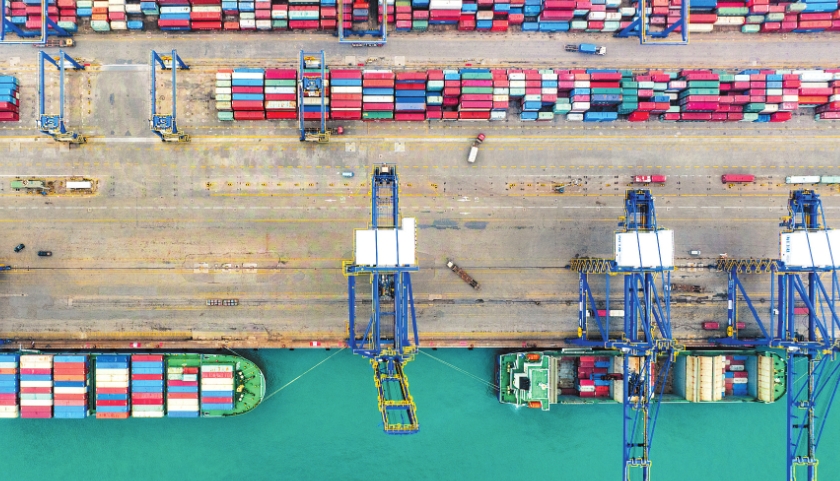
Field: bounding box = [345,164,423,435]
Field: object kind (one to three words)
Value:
container crane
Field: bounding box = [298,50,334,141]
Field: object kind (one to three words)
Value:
container crane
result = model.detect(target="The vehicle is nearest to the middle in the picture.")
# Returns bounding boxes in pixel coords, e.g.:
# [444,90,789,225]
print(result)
[445,259,478,289]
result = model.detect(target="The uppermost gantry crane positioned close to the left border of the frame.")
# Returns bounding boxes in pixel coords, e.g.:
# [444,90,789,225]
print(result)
[1,0,69,44]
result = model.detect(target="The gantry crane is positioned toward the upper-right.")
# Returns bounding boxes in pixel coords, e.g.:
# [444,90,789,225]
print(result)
[618,0,687,44]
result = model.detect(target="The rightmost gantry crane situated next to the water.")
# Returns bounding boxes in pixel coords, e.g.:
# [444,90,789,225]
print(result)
[701,190,840,481]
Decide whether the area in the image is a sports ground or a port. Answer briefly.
port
